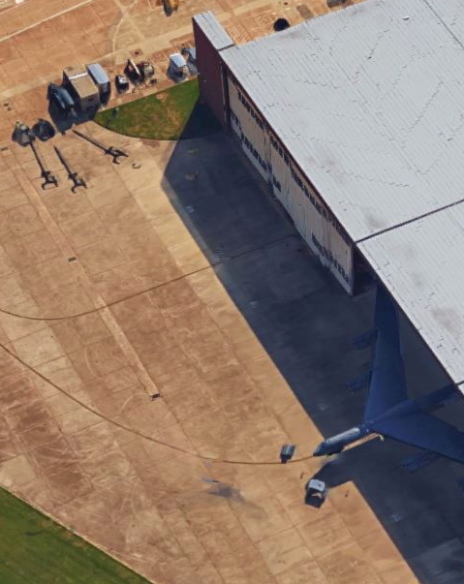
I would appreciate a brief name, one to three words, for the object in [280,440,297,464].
work vehicle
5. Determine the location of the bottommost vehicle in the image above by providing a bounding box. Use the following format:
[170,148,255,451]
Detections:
[303,475,330,507]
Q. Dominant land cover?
paved ground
